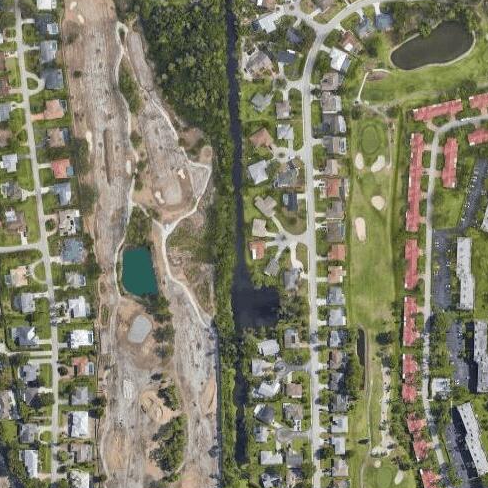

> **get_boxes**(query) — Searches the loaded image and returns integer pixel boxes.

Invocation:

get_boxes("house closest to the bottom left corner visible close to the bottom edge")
[21,449,38,476]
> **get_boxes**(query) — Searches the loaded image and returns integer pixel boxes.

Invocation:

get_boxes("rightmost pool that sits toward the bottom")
[430,377,449,396]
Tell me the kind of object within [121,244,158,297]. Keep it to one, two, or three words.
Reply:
pond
